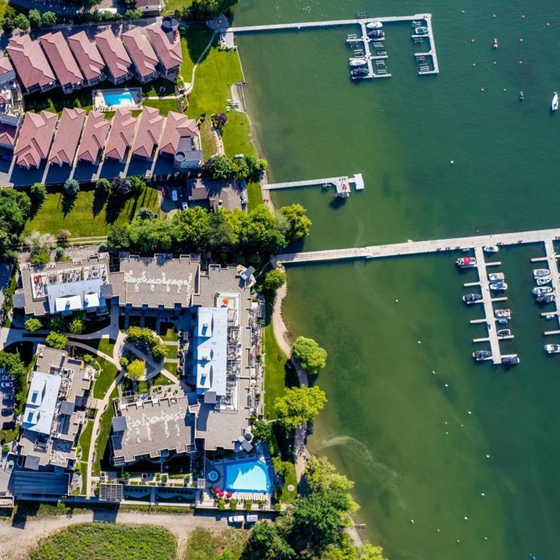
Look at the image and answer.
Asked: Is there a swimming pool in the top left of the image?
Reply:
Yes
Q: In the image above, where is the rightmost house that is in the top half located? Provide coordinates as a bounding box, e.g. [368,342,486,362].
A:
[209,183,242,216]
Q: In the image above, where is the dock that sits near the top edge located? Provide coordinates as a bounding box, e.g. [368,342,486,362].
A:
[228,12,439,79]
